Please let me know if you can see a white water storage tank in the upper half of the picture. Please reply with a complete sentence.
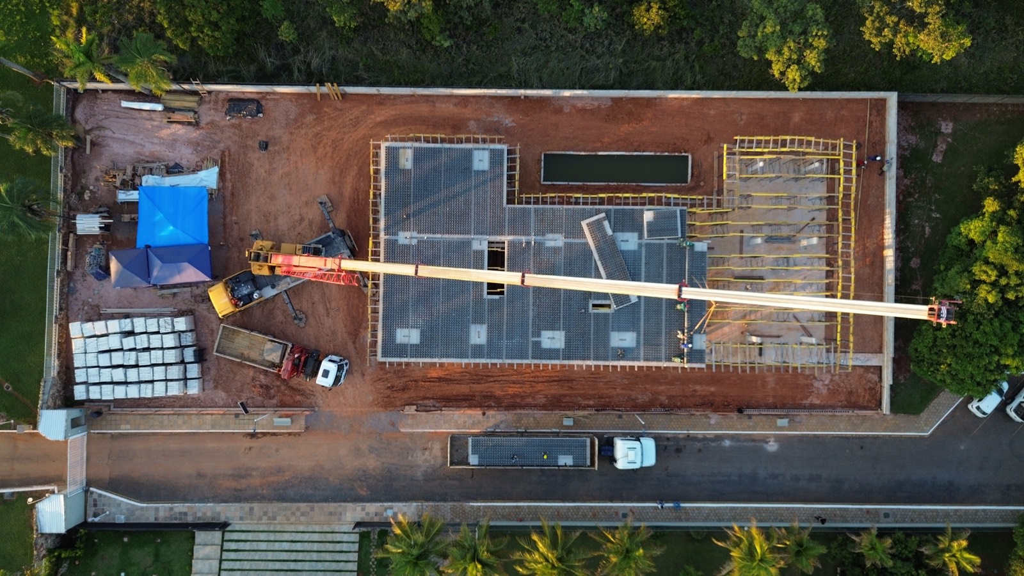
No, looking in the upper half of the picture, there is no white water storage tank.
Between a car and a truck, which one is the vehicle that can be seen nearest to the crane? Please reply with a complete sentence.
The vehicle that can be seen nearest to the crane can be classified as a truck.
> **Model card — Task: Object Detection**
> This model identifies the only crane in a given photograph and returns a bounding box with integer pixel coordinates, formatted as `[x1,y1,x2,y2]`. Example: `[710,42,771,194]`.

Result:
[204,203,973,331]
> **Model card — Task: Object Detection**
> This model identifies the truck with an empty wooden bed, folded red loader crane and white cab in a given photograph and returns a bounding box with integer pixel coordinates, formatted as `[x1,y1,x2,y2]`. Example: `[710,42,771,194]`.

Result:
[213,322,355,395]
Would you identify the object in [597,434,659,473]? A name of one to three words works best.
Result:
truck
